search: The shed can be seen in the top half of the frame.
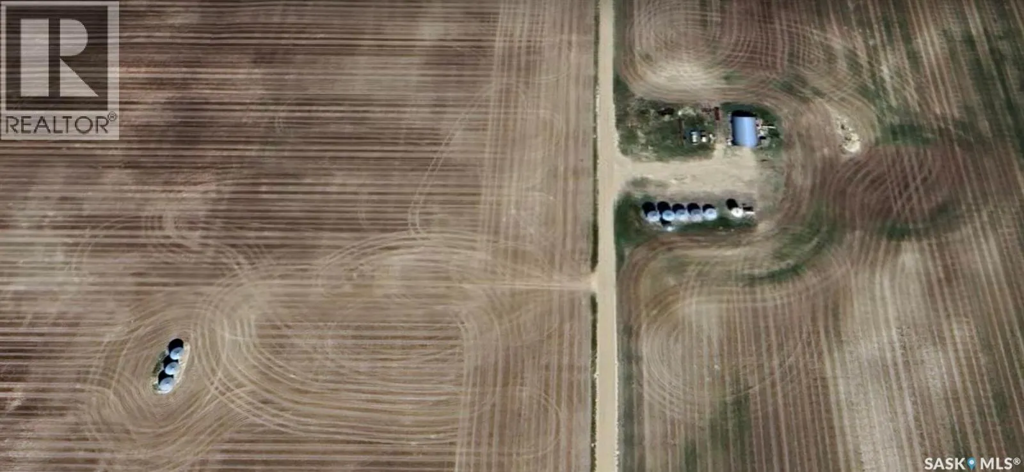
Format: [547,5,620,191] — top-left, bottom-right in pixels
[731,116,758,149]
